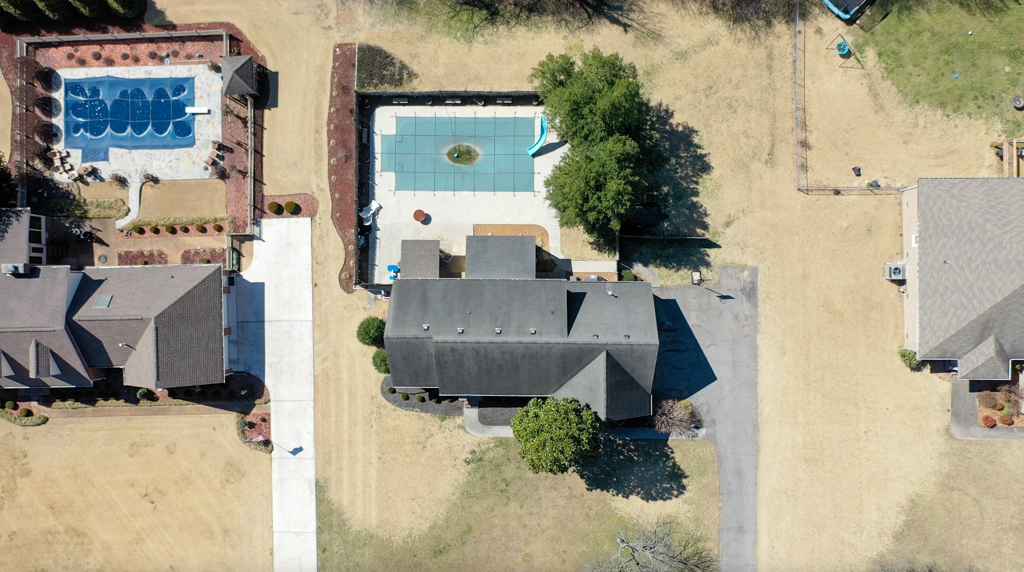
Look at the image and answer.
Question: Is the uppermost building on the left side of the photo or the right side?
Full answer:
You can find the uppermost building on the left side of the picture.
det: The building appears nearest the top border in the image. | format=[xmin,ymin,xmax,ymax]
[222,55,261,98]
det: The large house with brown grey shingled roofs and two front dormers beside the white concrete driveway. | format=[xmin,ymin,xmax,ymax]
[0,206,233,397]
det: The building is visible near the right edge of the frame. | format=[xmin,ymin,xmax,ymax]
[903,177,1024,381]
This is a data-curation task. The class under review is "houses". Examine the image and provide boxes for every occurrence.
[903,177,1024,381]
[0,206,233,397]
[384,278,660,422]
